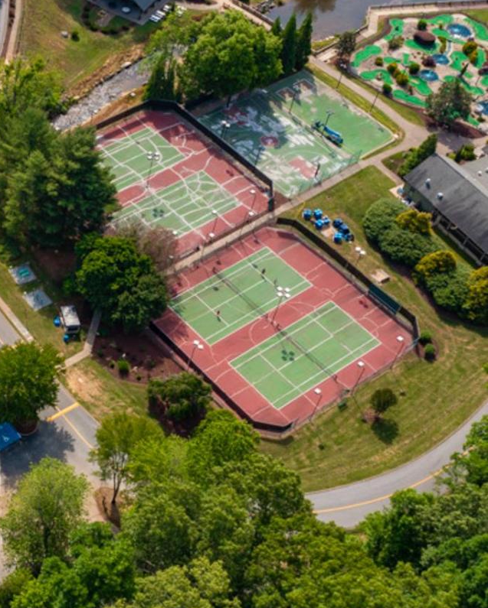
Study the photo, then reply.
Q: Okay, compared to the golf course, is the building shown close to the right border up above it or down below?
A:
below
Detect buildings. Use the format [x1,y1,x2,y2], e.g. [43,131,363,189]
[406,156,488,255]
[92,0,178,30]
